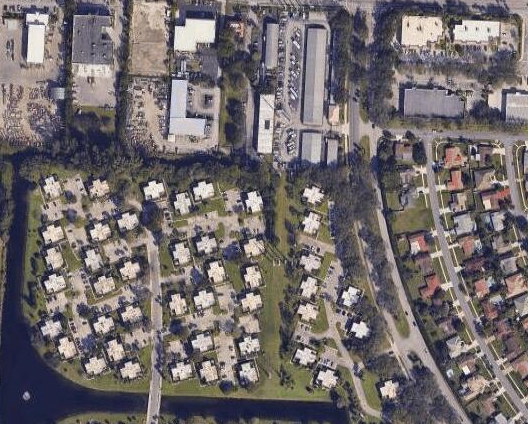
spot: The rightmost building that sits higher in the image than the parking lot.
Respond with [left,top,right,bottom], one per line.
[454,21,501,42]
